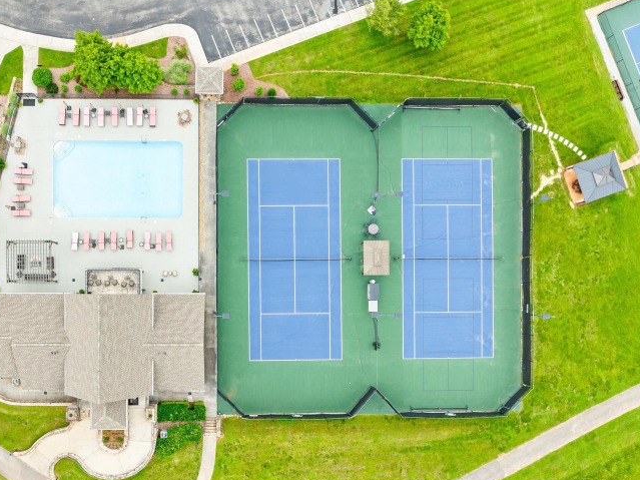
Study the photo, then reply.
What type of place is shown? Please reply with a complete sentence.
This image shows a sports ground.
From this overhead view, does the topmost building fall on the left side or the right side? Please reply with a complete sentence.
It is on the left.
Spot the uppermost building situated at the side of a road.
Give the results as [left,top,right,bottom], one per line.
[195,66,225,100]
